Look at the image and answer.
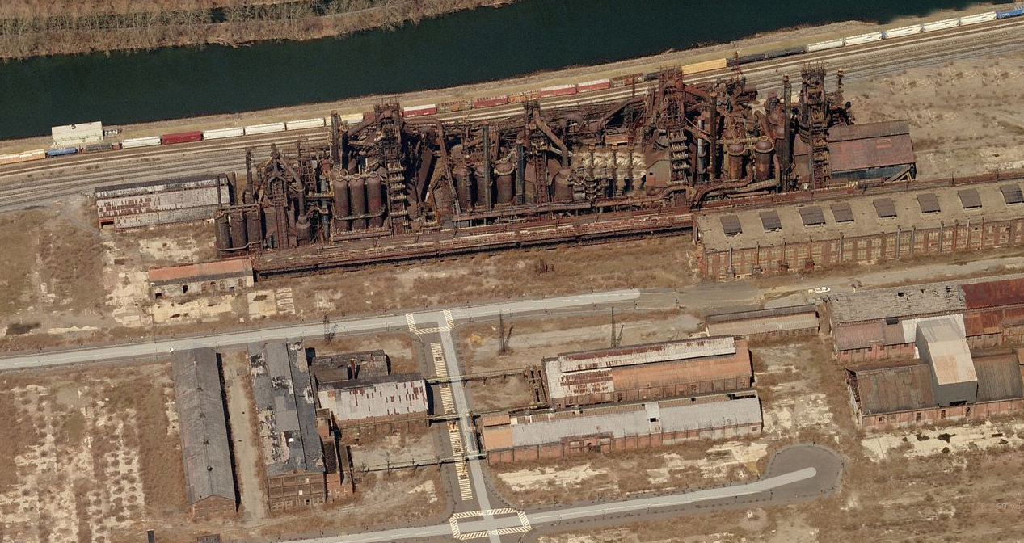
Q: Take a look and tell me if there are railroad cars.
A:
Yes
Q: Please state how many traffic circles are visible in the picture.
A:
1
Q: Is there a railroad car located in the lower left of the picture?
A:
No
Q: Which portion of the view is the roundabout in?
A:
bottom right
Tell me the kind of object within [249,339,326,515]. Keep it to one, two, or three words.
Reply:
building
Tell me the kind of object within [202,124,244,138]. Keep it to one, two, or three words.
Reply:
rail car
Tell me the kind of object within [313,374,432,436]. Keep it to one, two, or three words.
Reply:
shed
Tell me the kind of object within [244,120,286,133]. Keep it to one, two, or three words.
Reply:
rail car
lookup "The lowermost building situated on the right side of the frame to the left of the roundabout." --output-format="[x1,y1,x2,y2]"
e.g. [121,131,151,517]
[481,387,764,464]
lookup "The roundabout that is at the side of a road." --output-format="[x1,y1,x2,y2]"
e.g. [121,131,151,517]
[762,437,852,504]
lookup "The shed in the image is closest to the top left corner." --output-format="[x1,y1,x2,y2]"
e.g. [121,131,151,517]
[50,115,103,147]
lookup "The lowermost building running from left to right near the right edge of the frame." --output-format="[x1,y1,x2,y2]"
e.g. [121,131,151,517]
[849,350,1024,429]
